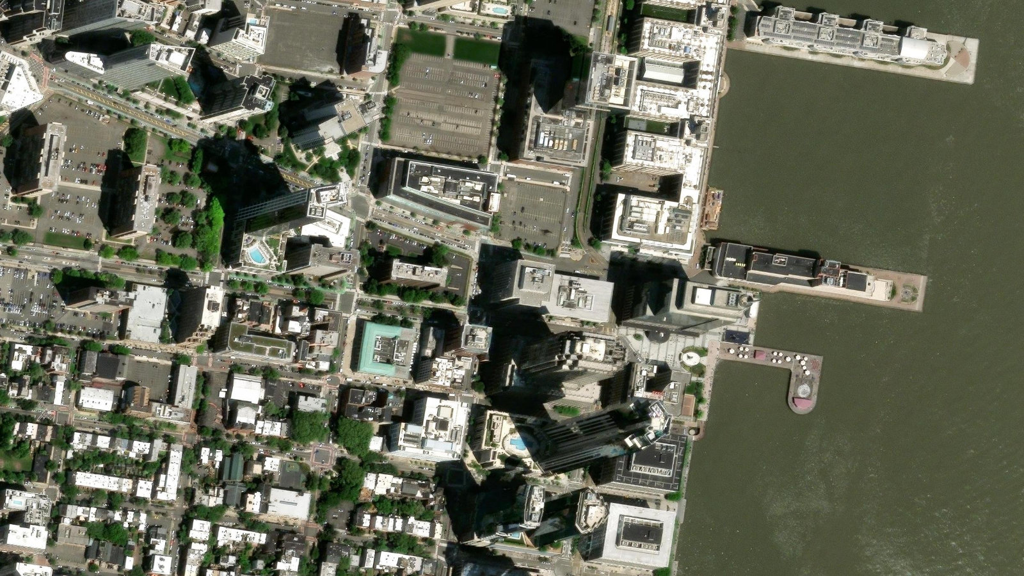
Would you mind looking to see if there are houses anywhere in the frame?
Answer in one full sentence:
Yes, a house can be made out from above.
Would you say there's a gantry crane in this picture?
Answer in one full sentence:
No, no gantry crane is visible in the scene.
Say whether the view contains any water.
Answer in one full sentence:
Yes, water shows up in the scene.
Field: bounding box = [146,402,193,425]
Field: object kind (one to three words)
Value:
building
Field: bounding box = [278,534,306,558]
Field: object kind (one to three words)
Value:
house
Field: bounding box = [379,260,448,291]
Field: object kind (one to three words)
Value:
building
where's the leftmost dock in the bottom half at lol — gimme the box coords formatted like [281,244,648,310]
[717,343,822,414]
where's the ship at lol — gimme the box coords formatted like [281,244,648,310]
[701,187,723,230]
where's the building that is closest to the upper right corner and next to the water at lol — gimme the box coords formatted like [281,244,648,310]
[748,6,946,66]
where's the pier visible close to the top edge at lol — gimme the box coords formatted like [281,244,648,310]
[730,7,978,84]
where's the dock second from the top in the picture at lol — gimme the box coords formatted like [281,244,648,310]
[745,265,919,312]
